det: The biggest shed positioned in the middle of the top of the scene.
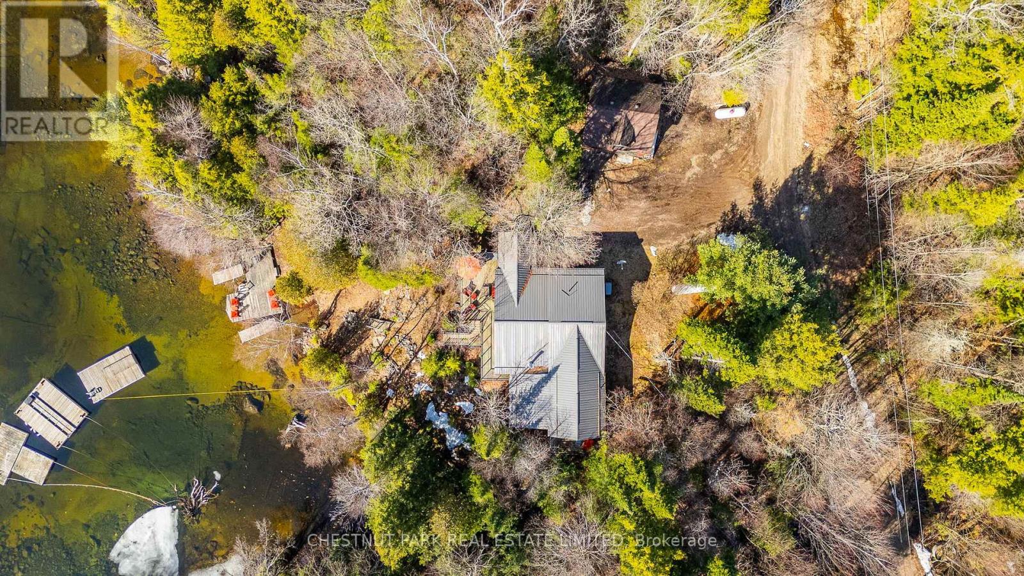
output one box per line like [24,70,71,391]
[582,86,660,162]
